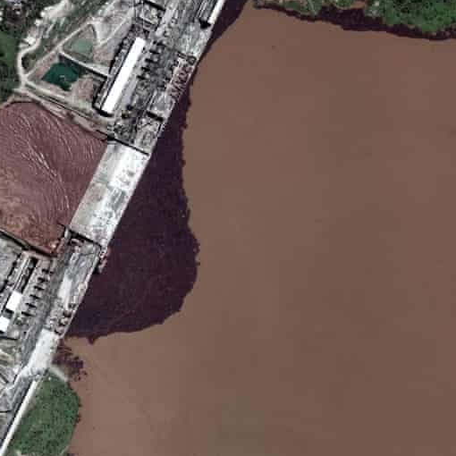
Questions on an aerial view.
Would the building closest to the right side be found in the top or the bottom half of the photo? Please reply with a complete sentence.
The building closest to the right side is in the top half of the image.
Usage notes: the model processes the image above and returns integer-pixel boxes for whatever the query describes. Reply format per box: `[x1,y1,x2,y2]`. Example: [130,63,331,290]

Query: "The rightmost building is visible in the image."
[93,30,150,118]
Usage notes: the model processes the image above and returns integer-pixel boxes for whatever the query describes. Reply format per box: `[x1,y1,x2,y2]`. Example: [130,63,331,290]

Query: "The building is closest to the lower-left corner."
[0,247,45,336]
